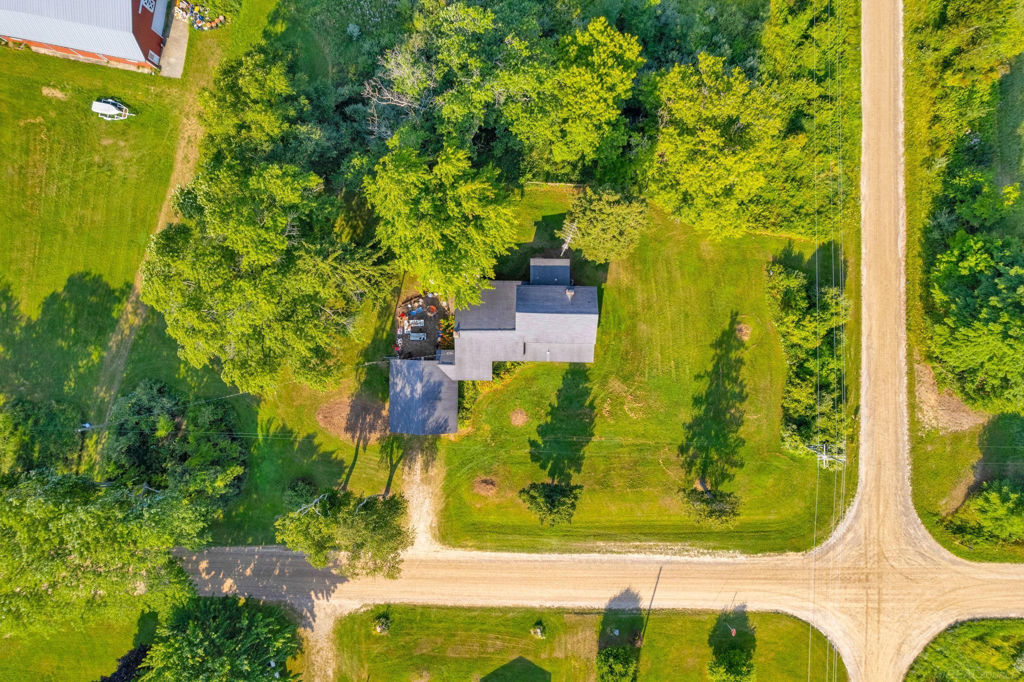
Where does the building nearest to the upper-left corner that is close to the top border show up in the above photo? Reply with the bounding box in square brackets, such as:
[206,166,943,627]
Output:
[0,0,172,73]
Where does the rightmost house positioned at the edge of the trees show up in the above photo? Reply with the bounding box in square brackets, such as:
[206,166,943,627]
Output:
[437,258,600,380]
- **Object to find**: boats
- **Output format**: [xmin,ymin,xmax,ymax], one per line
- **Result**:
[87,98,119,113]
